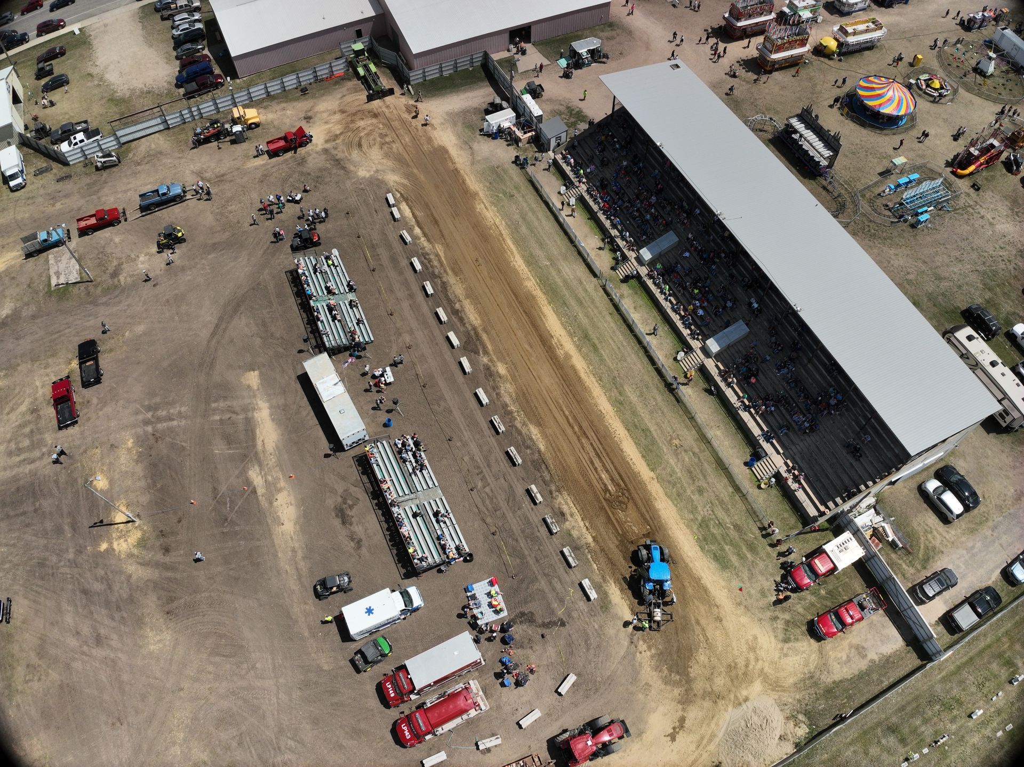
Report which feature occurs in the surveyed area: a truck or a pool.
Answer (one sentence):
This aerial view contains a truck.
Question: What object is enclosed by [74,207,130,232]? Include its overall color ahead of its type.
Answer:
red truck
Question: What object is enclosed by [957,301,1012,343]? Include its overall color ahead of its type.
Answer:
black car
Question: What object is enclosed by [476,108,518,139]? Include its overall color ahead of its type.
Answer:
white trailer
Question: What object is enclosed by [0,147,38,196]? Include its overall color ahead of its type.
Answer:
white van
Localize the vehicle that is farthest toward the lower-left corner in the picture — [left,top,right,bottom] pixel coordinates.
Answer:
[0,599,21,623]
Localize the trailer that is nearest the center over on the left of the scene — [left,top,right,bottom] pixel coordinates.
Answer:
[307,353,370,458]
